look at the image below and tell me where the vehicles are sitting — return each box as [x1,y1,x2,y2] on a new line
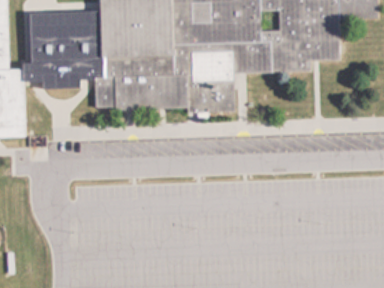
[76,141,82,153]
[61,141,66,153]
[67,140,72,152]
